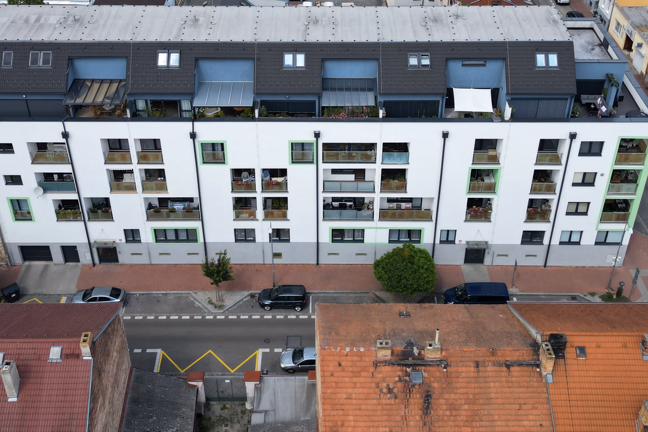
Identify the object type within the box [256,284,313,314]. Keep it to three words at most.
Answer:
car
